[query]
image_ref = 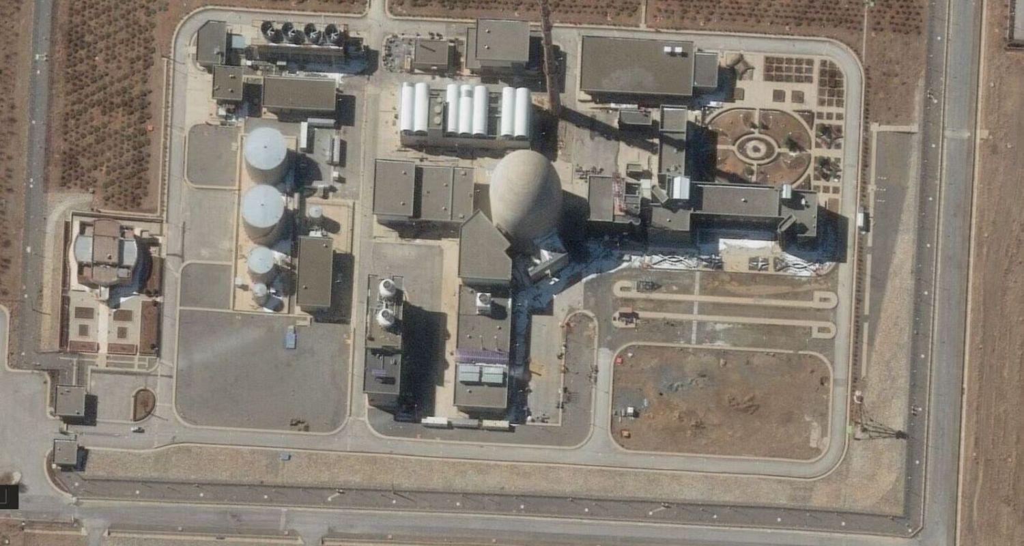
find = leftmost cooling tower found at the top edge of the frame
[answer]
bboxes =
[252,18,350,62]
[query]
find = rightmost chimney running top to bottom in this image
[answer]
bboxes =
[541,0,563,121]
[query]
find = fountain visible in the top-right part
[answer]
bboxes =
[747,138,766,158]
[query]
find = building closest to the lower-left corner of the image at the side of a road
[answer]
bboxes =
[54,439,79,470]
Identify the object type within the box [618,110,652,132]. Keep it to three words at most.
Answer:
building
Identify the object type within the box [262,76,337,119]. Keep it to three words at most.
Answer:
building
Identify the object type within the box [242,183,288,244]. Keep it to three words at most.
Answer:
storage tank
